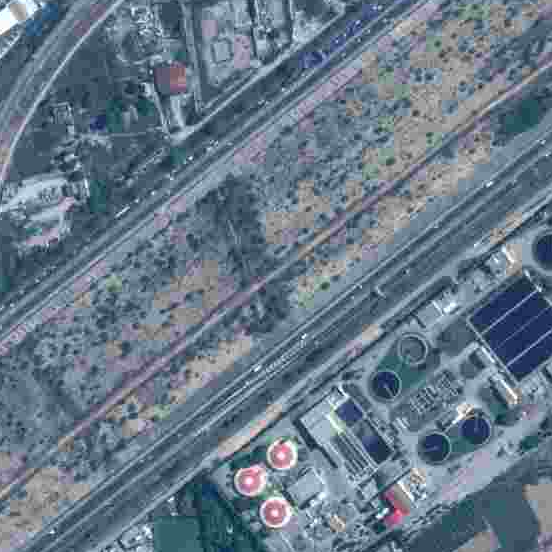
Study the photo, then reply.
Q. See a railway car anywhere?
No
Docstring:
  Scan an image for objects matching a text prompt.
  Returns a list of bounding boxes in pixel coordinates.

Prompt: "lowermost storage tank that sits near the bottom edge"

[258,498,291,529]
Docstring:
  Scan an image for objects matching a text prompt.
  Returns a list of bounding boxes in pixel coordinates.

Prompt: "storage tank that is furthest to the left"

[233,464,264,497]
